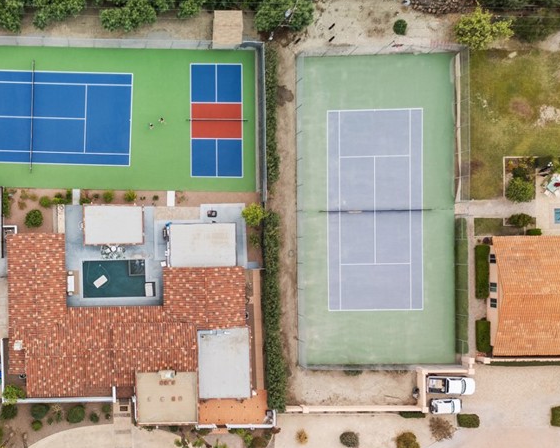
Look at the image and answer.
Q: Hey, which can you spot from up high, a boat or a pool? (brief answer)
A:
pool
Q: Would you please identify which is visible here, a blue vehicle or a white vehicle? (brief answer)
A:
white vehicle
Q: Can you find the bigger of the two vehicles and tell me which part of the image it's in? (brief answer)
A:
bottom right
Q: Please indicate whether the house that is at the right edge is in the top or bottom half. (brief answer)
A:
bottom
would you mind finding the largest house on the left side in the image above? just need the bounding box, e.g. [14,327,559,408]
[7,224,252,424]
